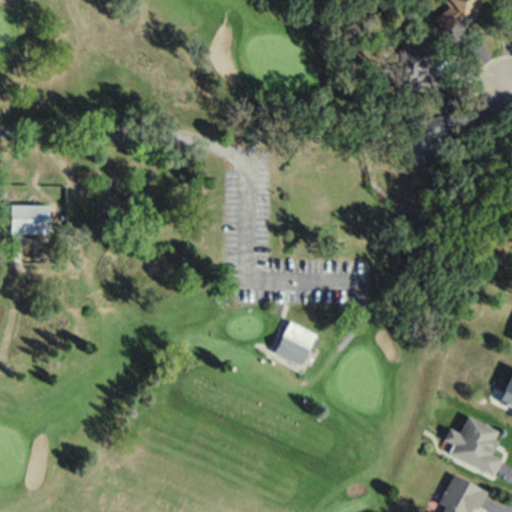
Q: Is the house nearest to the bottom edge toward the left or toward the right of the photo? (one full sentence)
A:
It is on the right.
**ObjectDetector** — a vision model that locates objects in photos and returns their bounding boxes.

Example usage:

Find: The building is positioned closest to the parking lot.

[274,320,320,367]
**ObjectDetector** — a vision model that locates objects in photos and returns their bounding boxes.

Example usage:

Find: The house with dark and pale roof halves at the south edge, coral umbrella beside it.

[436,476,488,512]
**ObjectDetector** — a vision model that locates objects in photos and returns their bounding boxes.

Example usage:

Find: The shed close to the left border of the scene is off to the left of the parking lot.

[10,205,50,235]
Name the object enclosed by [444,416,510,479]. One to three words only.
house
